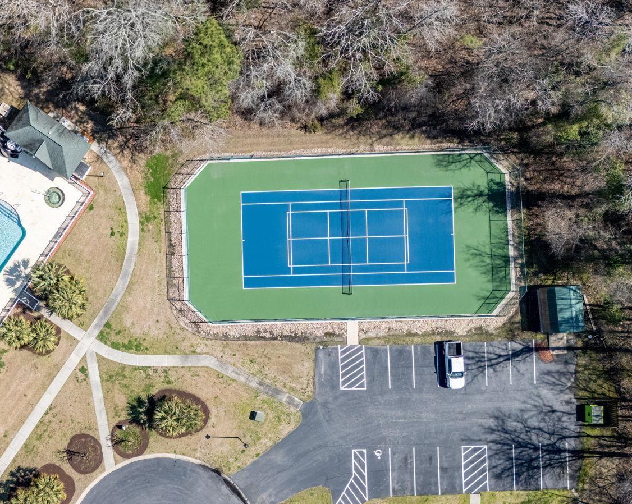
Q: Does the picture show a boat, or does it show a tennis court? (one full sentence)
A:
There is a tennis court in the scene.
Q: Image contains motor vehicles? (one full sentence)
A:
Yes, looking at the shot, I can spot a motor vehicle.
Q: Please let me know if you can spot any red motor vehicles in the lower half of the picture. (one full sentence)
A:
No, I can find no red motor vehicle in the lower half of the picture.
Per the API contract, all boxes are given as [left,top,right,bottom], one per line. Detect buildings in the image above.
[538,286,586,332]
[4,101,91,178]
